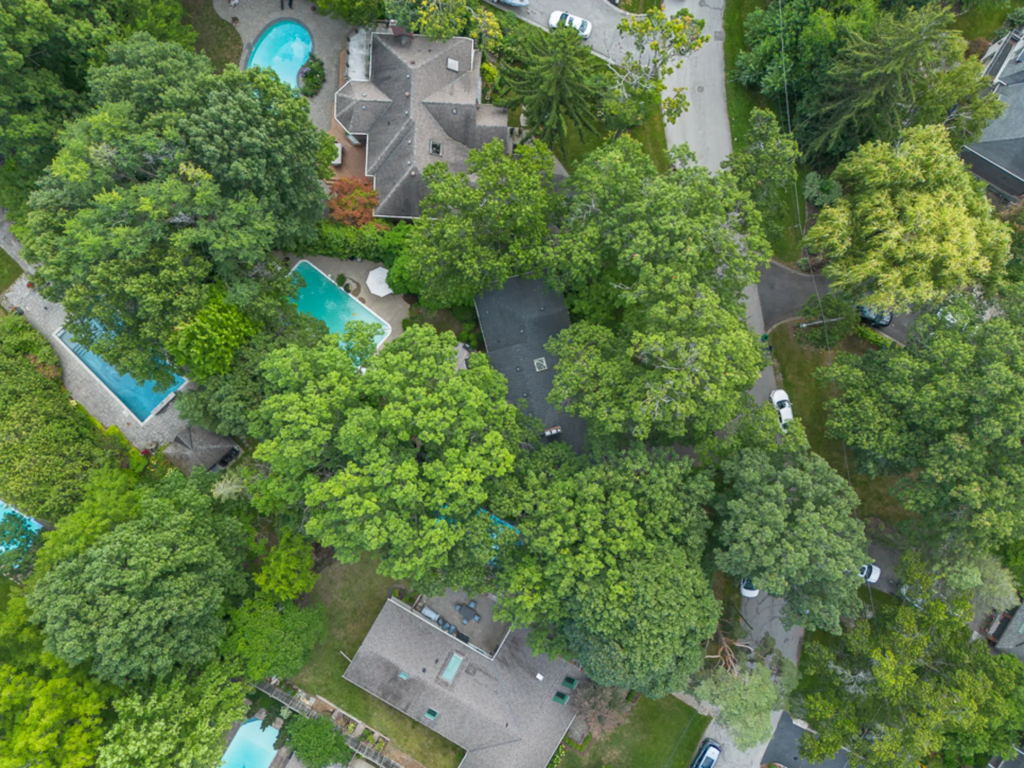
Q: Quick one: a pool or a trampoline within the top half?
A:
pool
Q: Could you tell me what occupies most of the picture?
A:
trees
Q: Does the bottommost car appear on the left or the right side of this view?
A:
right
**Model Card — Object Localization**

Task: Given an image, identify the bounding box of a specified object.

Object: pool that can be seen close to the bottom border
[215,714,280,768]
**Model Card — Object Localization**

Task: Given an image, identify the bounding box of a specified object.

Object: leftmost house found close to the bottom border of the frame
[341,589,586,768]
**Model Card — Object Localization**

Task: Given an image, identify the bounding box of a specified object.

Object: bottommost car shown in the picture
[684,735,721,768]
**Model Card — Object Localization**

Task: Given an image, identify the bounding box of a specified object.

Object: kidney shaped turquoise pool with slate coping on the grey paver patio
[241,15,316,87]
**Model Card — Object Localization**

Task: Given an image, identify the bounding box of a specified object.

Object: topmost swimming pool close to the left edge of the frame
[51,315,187,427]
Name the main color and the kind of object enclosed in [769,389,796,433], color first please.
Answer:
white car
